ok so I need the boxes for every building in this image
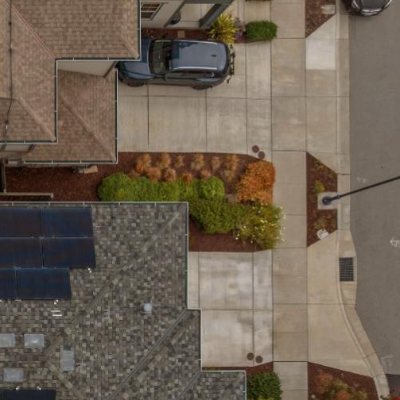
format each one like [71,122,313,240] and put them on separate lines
[0,201,247,400]
[0,0,228,166]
